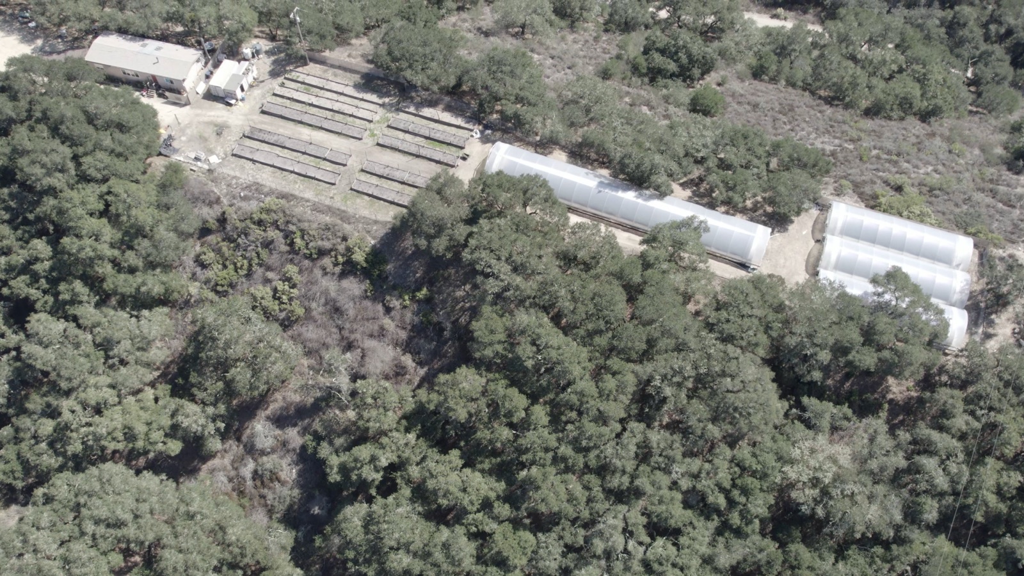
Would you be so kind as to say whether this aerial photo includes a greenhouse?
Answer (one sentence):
Yes, a greenhouse appears in the view.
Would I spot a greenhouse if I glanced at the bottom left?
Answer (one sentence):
No, no greenhouse is visible at the bottom left.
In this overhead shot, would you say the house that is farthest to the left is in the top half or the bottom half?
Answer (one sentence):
Seen from above, the house that is farthest to the left lies in the top half of the view.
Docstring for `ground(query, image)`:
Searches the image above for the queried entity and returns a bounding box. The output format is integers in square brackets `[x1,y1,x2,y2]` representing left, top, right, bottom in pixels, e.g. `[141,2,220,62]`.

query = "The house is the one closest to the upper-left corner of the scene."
[85,33,214,95]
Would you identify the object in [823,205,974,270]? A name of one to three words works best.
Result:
greenhouse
